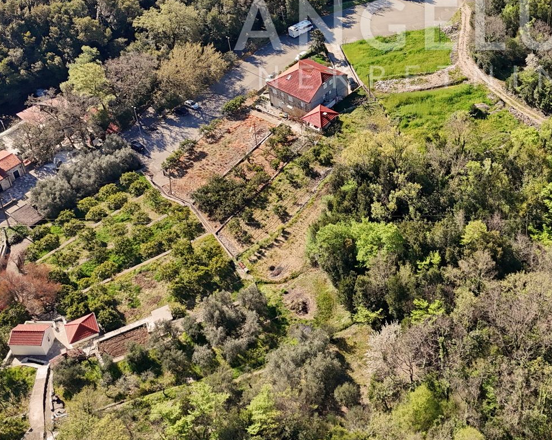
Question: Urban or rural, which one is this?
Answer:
rural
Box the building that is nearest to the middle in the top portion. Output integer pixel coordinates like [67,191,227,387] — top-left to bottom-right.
[299,108,340,140]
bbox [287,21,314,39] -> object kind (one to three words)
vehicle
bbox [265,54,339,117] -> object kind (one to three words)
house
